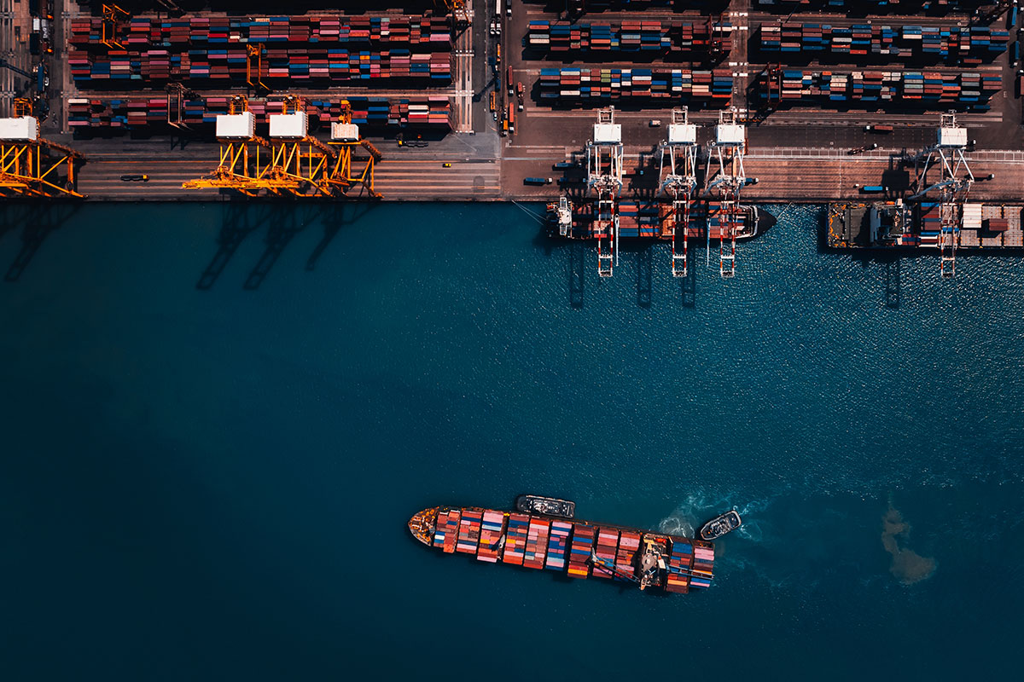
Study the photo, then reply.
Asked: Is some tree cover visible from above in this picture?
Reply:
No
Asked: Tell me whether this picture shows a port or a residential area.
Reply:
port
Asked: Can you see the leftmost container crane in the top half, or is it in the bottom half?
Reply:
top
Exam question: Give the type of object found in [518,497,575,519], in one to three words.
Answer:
boat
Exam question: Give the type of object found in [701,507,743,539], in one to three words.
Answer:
boat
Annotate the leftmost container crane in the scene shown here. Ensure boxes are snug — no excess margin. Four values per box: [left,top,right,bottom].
[0,100,80,195]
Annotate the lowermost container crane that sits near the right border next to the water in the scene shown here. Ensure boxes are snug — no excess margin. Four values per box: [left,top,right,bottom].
[896,104,986,280]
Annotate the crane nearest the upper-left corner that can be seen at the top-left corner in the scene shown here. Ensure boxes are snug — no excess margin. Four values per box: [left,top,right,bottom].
[101,2,133,51]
